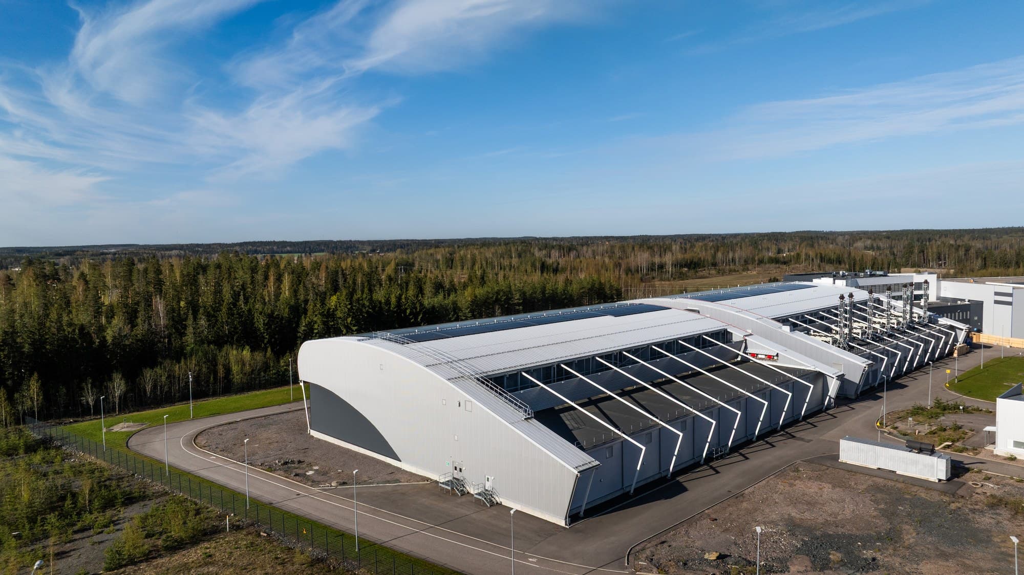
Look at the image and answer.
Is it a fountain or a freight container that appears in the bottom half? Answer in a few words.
freight container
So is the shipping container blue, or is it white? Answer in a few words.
white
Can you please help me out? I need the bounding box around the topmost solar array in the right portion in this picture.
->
[691,285,825,302]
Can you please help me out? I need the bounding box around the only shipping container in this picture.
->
[837,436,950,480]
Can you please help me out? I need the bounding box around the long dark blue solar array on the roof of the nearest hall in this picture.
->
[396,305,672,341]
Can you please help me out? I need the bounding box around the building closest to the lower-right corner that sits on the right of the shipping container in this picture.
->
[978,369,1024,459]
